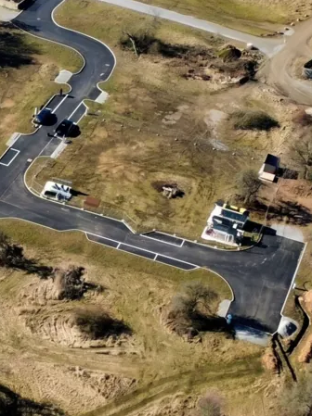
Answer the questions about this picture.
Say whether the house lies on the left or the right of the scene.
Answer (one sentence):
You can find the house on the right side of the picture.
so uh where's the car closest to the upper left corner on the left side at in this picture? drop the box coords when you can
[35,108,53,121]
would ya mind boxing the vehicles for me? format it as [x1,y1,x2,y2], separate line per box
[55,122,72,136]
[35,108,53,121]
[42,181,71,198]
